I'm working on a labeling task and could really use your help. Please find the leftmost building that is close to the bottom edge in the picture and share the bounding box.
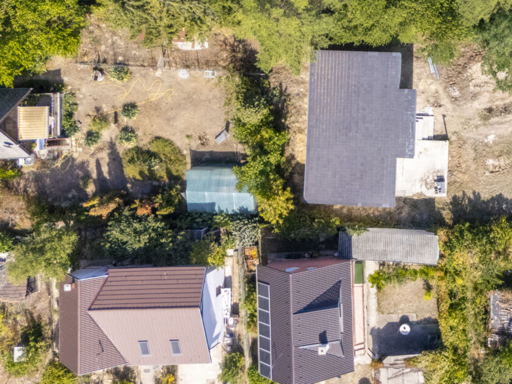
[59,254,225,376]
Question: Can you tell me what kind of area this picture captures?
residential area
